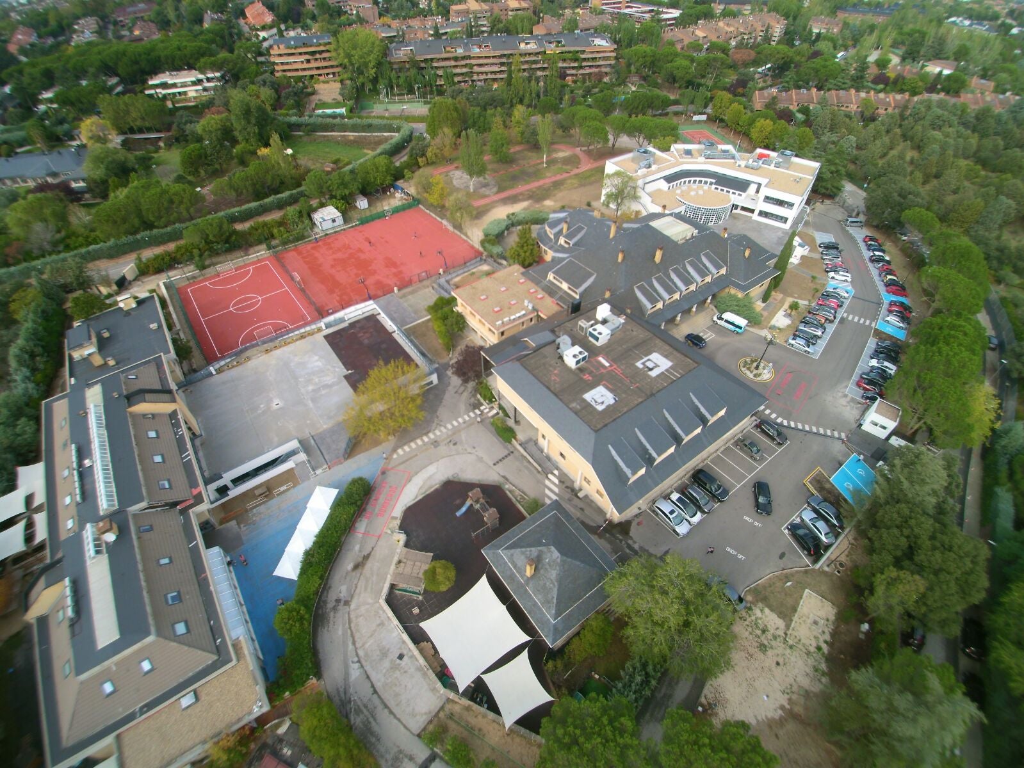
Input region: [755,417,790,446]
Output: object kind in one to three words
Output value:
car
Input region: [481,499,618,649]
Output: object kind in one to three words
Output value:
building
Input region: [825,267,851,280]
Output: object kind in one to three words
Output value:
vehicle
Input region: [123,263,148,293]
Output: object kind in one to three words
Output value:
building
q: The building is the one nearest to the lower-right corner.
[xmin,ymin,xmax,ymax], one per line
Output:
[861,398,898,435]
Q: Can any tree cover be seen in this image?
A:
Yes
